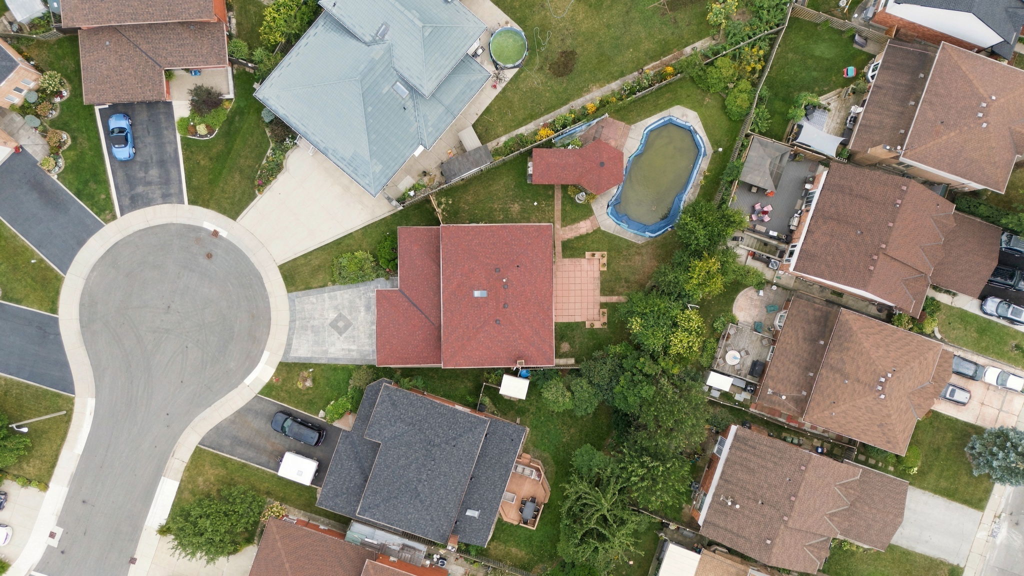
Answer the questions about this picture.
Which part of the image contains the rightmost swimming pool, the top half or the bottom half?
top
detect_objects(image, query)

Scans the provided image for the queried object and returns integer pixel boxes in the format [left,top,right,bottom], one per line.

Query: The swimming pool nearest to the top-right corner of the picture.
[607,100,705,238]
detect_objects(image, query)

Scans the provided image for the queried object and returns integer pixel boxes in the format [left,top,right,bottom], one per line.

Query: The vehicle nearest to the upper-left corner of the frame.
[108,115,137,161]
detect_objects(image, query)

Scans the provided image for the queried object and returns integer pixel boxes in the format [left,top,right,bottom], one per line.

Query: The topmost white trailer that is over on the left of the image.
[277,451,320,486]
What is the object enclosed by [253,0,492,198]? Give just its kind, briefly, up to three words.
house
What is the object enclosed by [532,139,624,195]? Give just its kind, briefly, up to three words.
building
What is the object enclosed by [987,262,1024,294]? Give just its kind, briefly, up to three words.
truck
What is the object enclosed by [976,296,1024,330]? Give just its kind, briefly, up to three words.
car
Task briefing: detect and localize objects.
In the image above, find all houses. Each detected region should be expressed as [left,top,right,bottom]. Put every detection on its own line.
[690,421,910,575]
[250,508,456,576]
[58,0,235,108]
[253,0,492,198]
[751,296,954,457]
[776,159,1003,318]
[375,223,556,369]
[841,38,1024,196]
[315,378,527,555]
[0,37,40,171]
